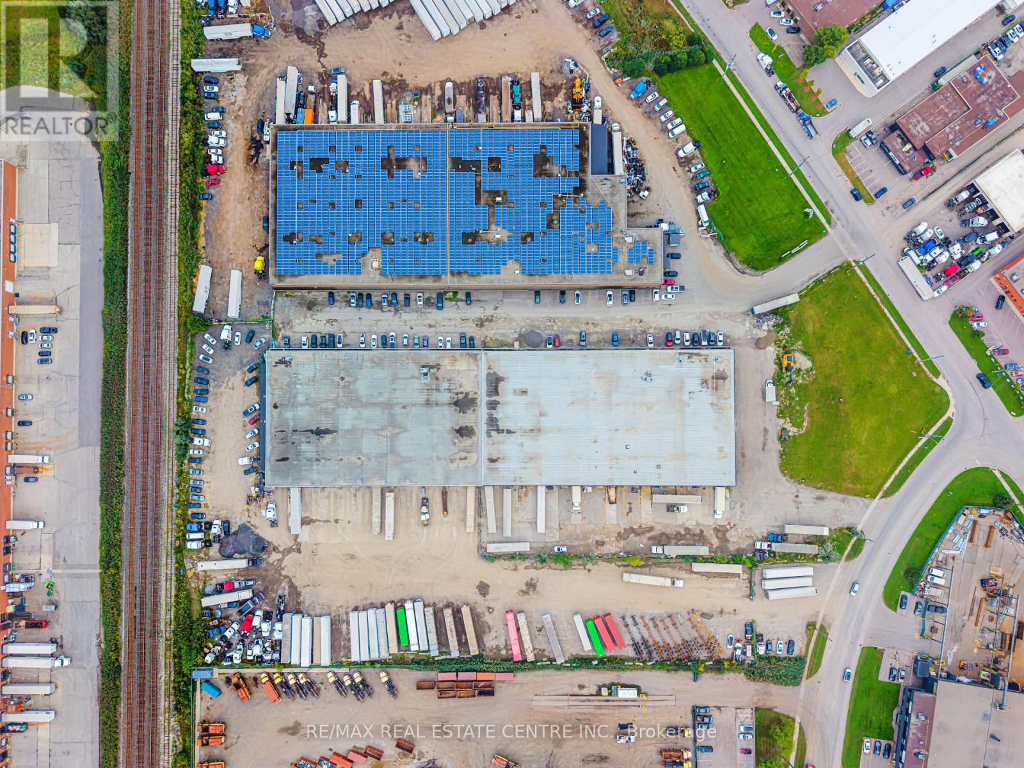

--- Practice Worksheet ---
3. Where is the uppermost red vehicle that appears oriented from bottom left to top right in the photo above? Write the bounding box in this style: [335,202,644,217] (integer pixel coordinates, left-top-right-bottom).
[907,167,931,185]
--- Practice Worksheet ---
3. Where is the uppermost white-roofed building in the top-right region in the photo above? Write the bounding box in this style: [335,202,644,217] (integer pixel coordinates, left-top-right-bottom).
[835,0,1016,99]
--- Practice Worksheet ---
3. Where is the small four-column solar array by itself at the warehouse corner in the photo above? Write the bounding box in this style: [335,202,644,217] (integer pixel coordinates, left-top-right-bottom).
[629,241,654,264]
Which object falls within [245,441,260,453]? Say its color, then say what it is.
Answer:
white vehicle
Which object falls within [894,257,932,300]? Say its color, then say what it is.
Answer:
white trailer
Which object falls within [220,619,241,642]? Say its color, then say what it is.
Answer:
white truck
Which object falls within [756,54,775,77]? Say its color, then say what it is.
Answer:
white vehicle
